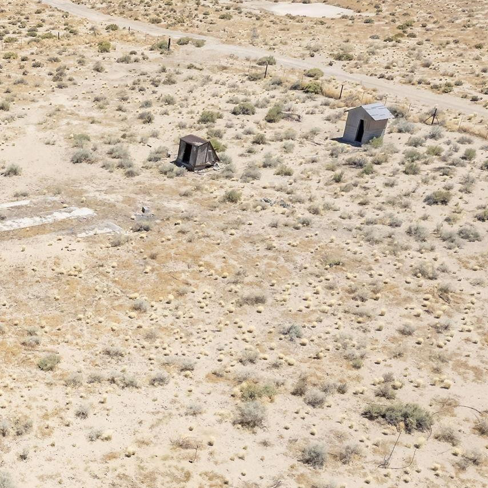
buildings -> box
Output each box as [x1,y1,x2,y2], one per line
[177,136,218,168]
[343,106,393,145]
